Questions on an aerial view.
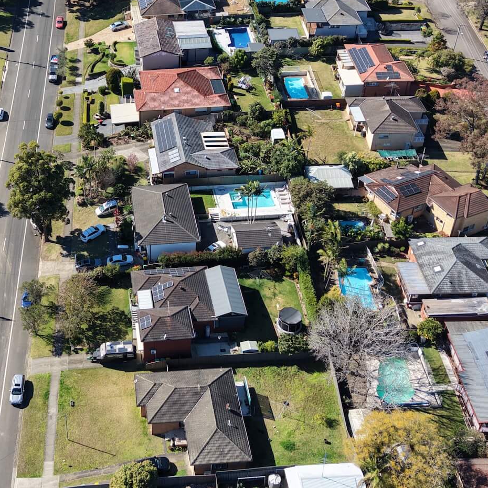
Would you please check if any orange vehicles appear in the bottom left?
No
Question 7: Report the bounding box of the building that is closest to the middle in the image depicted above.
[228,222,281,260]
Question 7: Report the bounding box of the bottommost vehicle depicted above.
[144,452,181,479]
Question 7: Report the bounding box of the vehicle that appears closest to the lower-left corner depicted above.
[8,375,24,406]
